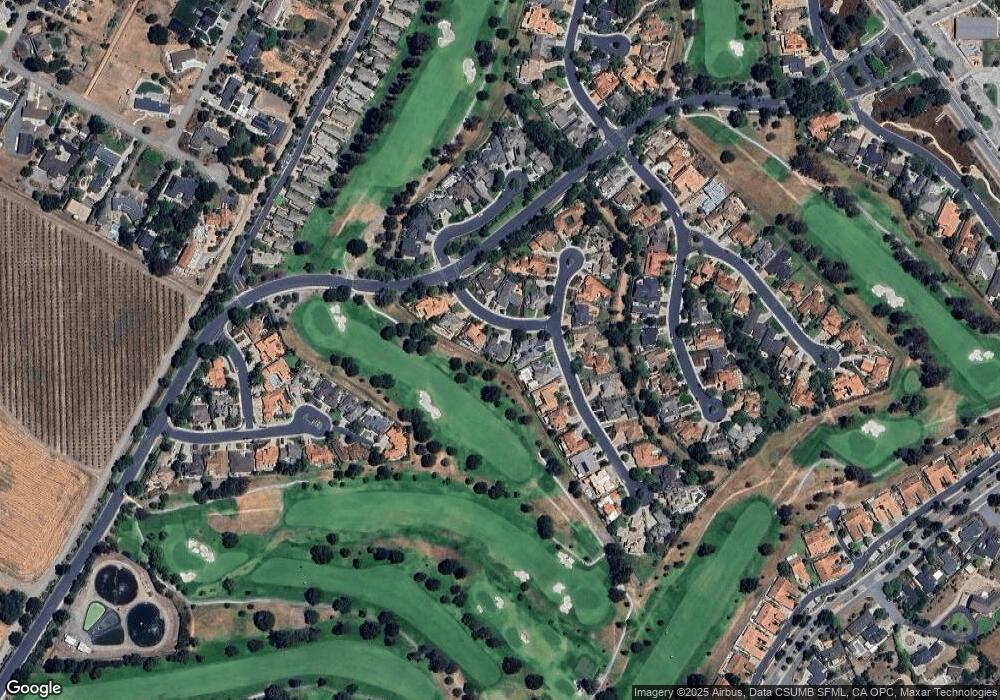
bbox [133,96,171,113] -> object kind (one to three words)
house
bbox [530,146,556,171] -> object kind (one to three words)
house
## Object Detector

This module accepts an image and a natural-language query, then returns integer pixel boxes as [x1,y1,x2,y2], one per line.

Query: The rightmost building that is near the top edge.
[957,16,999,39]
